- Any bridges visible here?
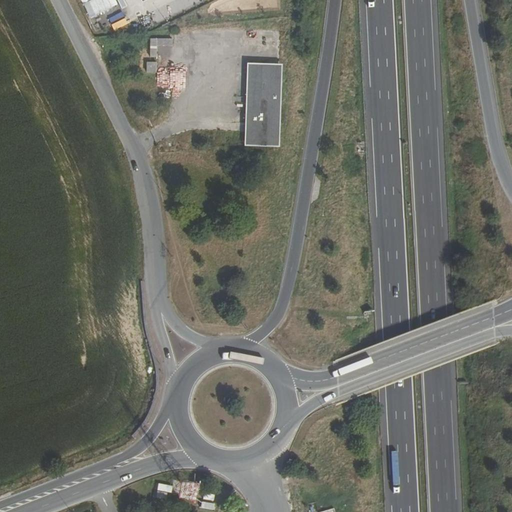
Yes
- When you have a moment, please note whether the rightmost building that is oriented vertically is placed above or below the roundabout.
above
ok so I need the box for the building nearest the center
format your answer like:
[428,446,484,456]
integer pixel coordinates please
[245,62,282,147]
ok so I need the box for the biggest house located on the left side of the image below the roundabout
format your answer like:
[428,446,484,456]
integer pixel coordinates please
[178,482,200,504]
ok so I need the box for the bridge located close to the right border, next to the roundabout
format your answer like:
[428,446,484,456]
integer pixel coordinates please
[332,300,498,406]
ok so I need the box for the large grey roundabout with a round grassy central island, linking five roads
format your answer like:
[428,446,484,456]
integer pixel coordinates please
[136,313,325,476]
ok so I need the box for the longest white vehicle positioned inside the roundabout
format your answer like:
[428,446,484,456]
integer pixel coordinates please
[222,352,264,364]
